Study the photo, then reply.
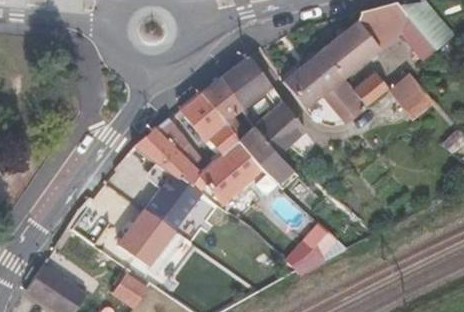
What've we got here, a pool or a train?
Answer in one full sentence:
There is a pool in the scene.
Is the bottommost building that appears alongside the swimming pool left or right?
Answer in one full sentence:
The bottommost building that appears alongside the swimming pool sits on the right side.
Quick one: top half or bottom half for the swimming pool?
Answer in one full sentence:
Seen from above, the swimming pool lies in the bottom half of the view.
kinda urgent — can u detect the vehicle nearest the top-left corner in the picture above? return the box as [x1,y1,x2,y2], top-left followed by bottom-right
[78,134,96,154]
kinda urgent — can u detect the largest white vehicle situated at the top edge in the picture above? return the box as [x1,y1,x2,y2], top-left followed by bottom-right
[300,7,322,20]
